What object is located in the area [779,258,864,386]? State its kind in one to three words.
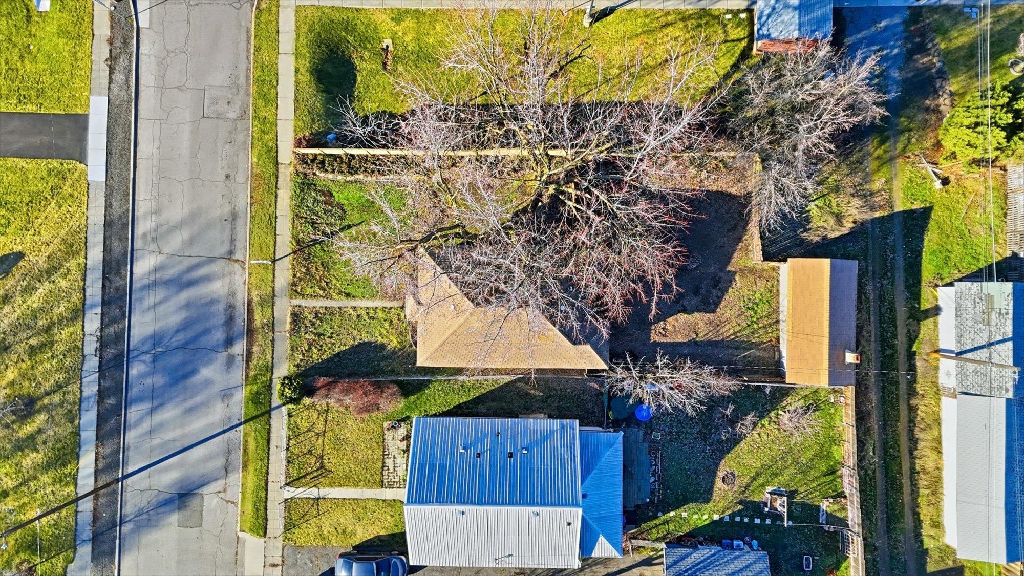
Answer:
building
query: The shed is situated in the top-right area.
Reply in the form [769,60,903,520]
[753,0,833,53]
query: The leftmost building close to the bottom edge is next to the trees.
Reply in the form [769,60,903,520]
[403,415,624,569]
